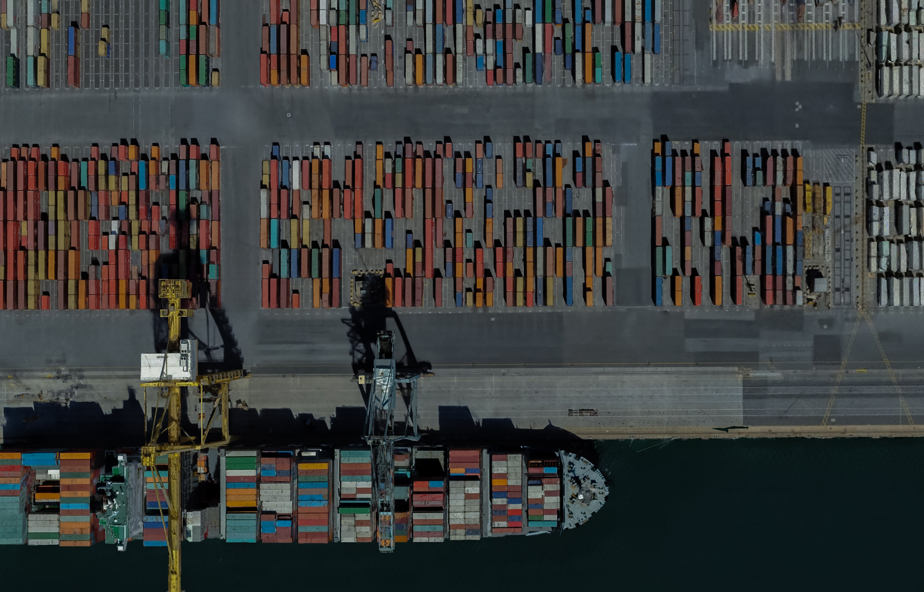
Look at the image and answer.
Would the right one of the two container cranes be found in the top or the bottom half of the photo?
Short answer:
bottom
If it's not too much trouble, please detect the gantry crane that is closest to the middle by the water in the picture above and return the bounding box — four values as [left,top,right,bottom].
[342,332,437,553]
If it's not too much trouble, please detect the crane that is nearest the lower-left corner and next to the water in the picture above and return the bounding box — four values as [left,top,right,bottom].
[140,280,247,592]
